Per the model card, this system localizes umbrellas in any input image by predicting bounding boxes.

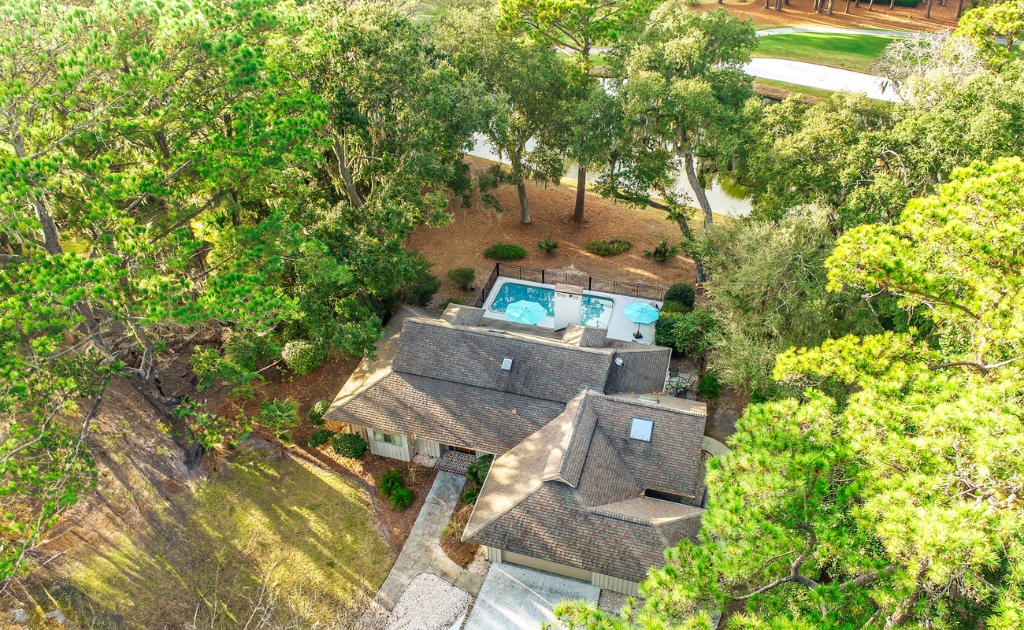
[505,302,547,326]
[622,307,659,339]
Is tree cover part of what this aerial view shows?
Yes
